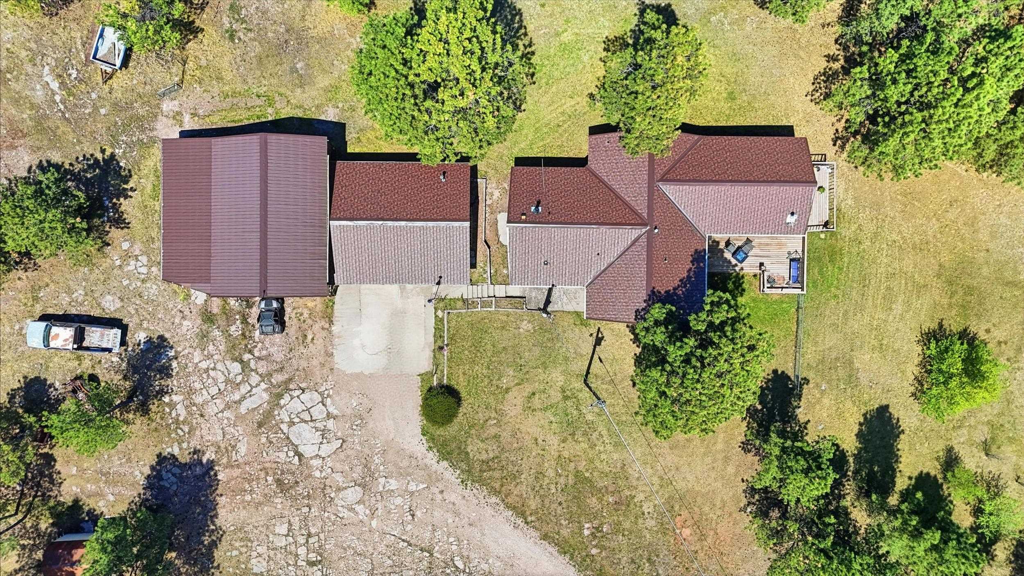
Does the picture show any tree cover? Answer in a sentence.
Yes, the picture does contain tree cover.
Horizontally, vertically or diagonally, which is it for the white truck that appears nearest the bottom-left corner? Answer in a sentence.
The white truck that appears nearest the bottom-left corner runs horizontally in the image.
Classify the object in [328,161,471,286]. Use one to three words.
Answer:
building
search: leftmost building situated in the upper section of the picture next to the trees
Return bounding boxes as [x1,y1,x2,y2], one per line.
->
[160,131,339,298]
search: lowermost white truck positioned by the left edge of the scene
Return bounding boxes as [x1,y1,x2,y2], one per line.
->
[24,317,127,355]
